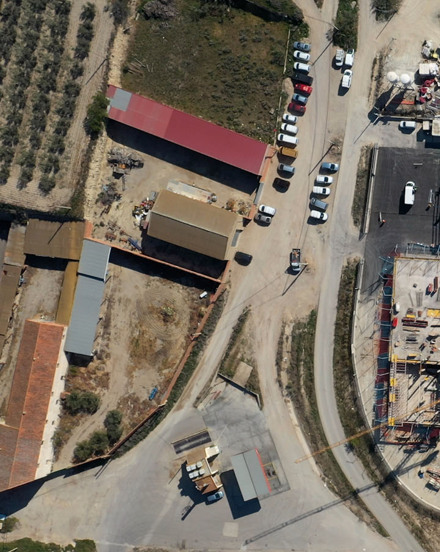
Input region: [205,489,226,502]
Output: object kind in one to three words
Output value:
vehicle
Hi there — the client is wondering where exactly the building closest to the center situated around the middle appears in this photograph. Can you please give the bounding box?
[148,190,247,260]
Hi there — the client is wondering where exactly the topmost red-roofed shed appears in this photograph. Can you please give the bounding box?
[107,86,276,178]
